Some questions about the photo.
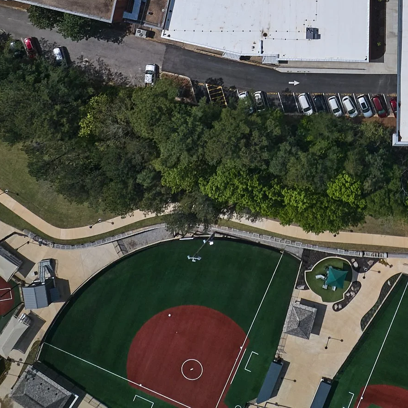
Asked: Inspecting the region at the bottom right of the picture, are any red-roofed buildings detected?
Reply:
No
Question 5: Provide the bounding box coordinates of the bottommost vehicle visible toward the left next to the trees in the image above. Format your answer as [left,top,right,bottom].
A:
[144,62,156,85]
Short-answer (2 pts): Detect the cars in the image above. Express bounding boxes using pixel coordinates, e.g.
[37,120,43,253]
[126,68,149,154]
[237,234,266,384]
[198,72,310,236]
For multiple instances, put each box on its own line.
[328,94,344,116]
[236,89,253,107]
[10,39,28,60]
[356,94,373,118]
[54,45,69,66]
[24,36,40,60]
[251,91,264,107]
[387,97,398,119]
[372,94,388,118]
[297,91,312,112]
[342,94,359,118]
